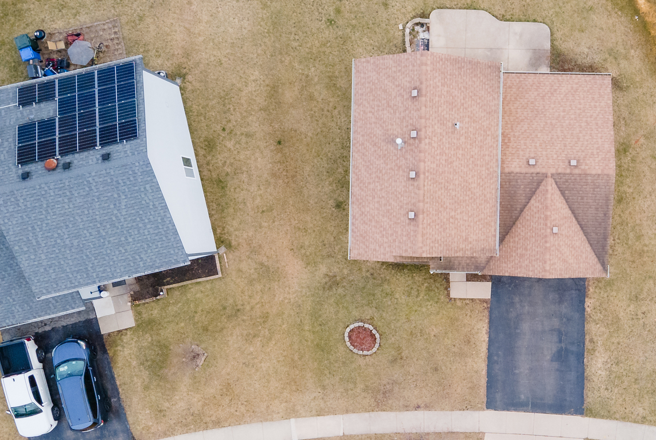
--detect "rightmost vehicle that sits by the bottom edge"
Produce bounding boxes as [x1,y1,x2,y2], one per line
[54,336,112,432]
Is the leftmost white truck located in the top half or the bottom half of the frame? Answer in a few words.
bottom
